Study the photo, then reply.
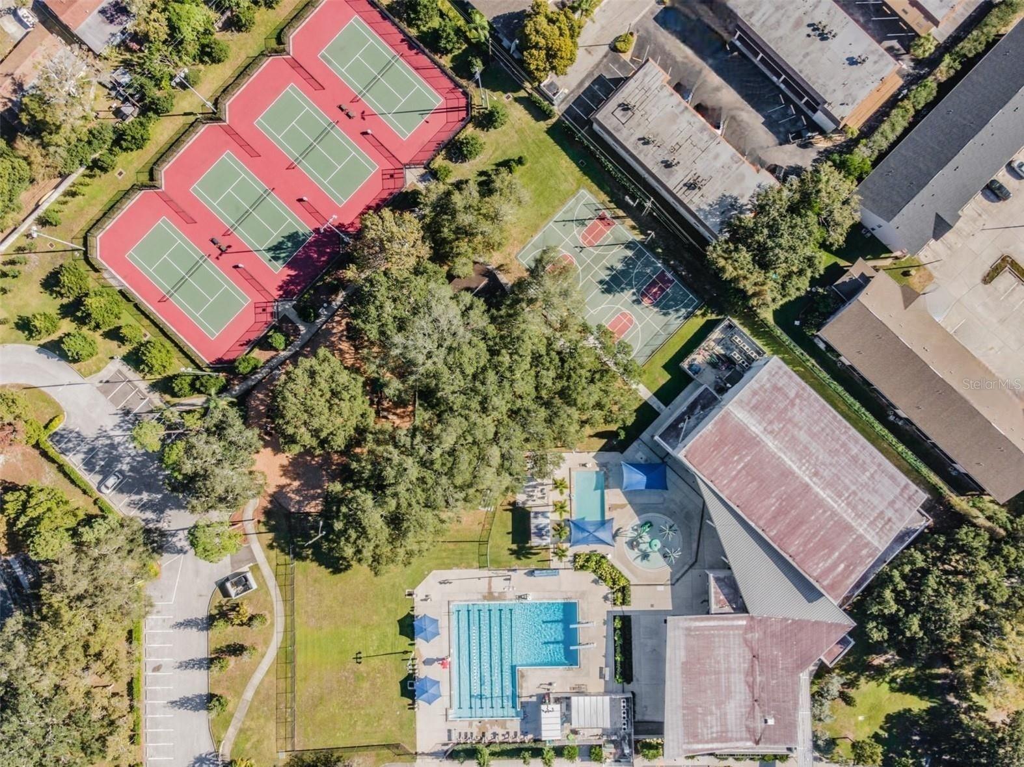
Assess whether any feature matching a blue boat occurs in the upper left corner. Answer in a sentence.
No, there's no blue boat to be seen in the upper left corner.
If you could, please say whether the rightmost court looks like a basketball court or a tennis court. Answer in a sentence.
I'd say the rightmost court is a basketball court.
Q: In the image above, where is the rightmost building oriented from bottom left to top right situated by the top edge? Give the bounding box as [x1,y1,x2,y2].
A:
[858,17,1024,259]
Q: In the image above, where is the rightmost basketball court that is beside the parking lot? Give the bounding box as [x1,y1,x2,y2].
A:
[518,189,704,364]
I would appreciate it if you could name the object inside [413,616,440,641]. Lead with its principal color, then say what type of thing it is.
blue umbrella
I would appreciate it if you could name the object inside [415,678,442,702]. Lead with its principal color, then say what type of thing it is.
blue umbrella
